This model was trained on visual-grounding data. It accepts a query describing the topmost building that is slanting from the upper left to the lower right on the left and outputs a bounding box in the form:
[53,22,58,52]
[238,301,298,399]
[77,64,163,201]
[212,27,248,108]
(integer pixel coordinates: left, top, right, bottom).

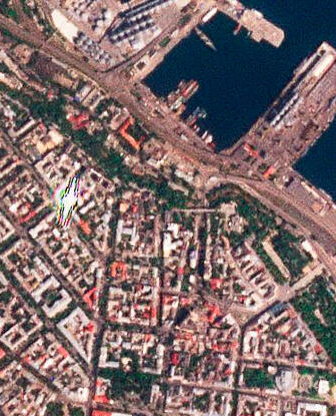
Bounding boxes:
[51,8,79,39]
